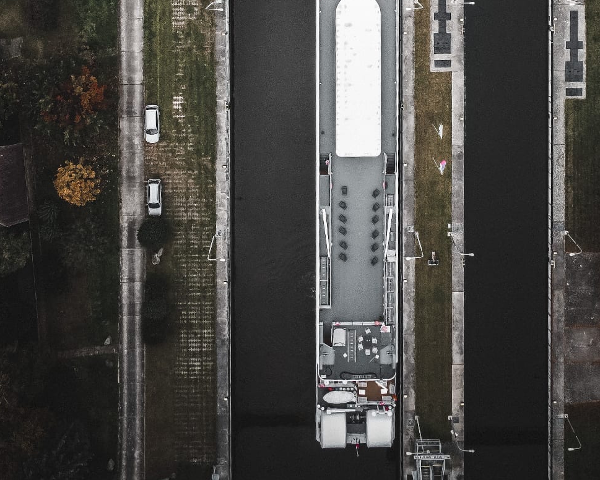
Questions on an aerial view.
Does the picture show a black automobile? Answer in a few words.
No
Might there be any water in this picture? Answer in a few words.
Yes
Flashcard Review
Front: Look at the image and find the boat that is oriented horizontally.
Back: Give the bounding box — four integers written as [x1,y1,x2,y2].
[323,390,356,402]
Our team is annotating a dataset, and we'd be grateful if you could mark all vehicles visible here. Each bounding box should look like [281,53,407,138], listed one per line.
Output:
[142,107,159,143]
[145,181,161,216]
